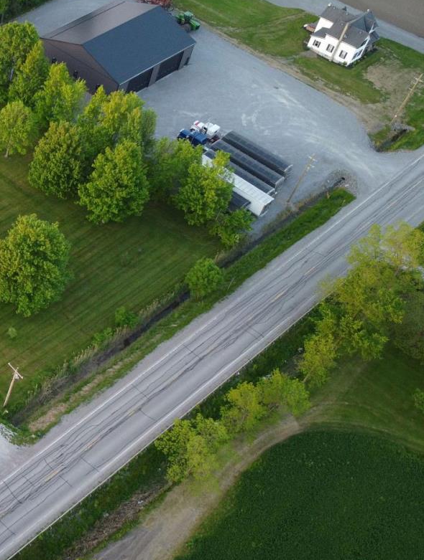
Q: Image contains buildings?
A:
Yes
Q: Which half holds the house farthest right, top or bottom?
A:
top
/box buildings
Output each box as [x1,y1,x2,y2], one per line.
[39,1,199,104]
[293,1,393,66]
